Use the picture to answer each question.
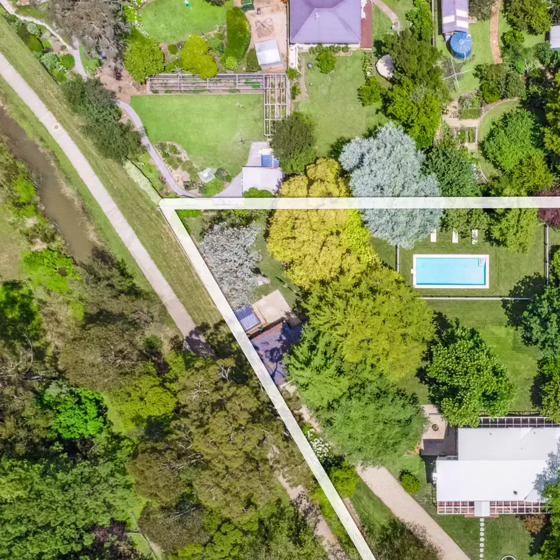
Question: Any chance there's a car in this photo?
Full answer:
No, the scene contains no car.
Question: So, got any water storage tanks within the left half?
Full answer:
No, there is no water storage tank within the left half.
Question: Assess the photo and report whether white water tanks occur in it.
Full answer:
No, no white water tank can be seen from above.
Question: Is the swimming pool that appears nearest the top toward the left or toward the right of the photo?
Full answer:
It is on the right.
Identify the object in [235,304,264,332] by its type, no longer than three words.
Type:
shed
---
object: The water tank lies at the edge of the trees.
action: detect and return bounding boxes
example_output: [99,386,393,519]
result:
[448,31,472,58]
